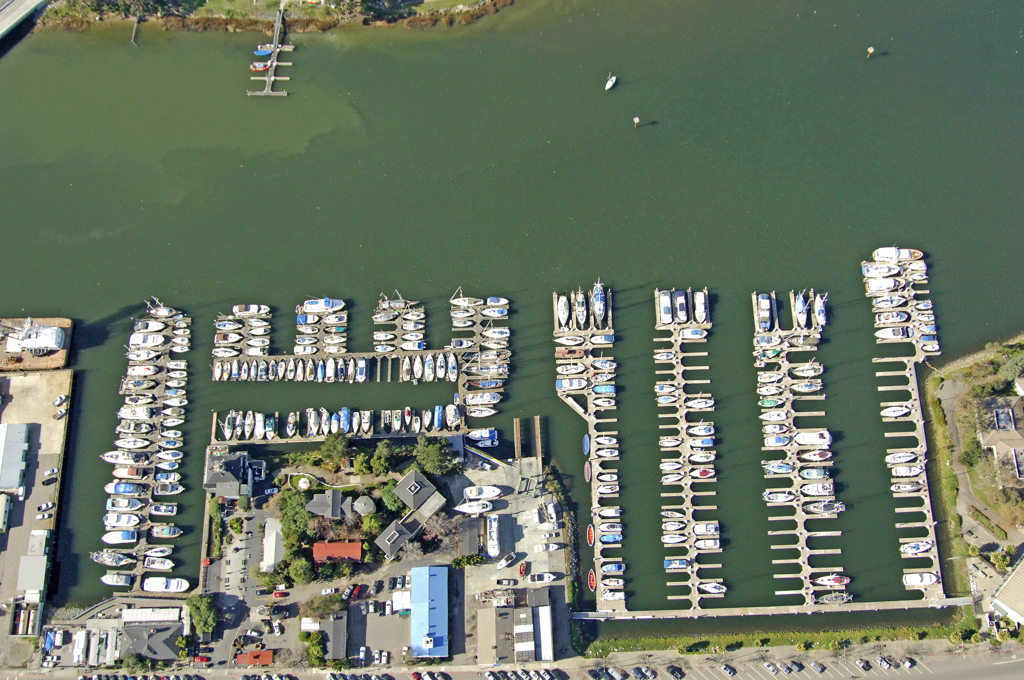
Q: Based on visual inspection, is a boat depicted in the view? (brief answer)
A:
Yes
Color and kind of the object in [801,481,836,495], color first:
white boat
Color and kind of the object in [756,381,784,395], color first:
white boat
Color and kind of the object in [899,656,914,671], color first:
white vehicle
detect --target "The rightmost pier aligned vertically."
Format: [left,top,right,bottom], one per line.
[861,260,945,599]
